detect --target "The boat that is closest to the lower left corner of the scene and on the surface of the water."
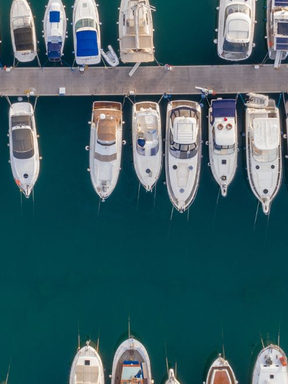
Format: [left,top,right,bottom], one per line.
[69,344,105,384]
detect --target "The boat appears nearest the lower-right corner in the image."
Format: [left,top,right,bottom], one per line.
[252,346,288,384]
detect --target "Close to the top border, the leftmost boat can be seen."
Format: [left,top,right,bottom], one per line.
[9,0,36,62]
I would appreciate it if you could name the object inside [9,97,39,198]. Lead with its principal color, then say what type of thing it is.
white boat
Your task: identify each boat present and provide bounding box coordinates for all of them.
[217,0,256,61]
[9,97,39,198]
[72,0,101,65]
[111,337,151,384]
[117,0,154,62]
[133,102,163,193]
[9,0,36,62]
[69,344,105,384]
[242,92,268,108]
[209,100,239,198]
[244,100,283,216]
[163,100,201,212]
[264,0,288,59]
[206,357,235,384]
[164,366,180,384]
[101,43,118,62]
[43,0,67,60]
[89,102,123,199]
[252,346,288,384]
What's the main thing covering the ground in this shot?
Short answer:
water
